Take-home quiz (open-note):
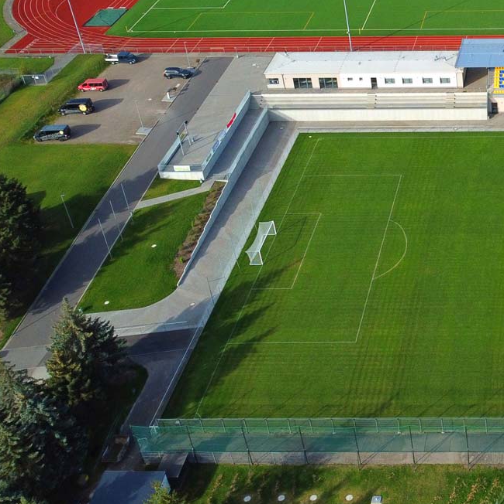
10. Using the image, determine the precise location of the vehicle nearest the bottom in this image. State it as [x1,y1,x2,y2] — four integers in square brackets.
[34,125,68,140]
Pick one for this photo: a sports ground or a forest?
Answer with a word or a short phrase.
sports ground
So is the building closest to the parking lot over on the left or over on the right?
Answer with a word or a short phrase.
right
